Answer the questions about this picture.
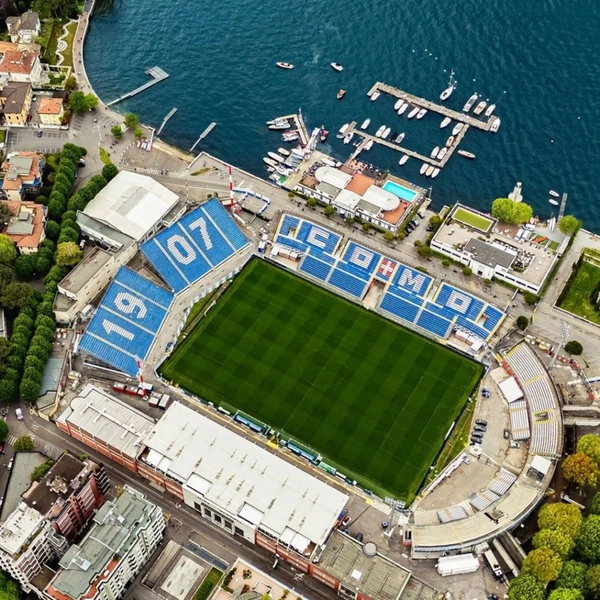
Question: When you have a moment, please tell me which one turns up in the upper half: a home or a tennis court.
home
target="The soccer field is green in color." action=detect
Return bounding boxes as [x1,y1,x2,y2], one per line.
[156,255,487,506]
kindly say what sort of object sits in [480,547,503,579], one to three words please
truck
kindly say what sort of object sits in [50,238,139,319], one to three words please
building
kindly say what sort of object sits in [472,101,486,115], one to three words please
boat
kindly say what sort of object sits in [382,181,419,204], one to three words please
swimming pool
